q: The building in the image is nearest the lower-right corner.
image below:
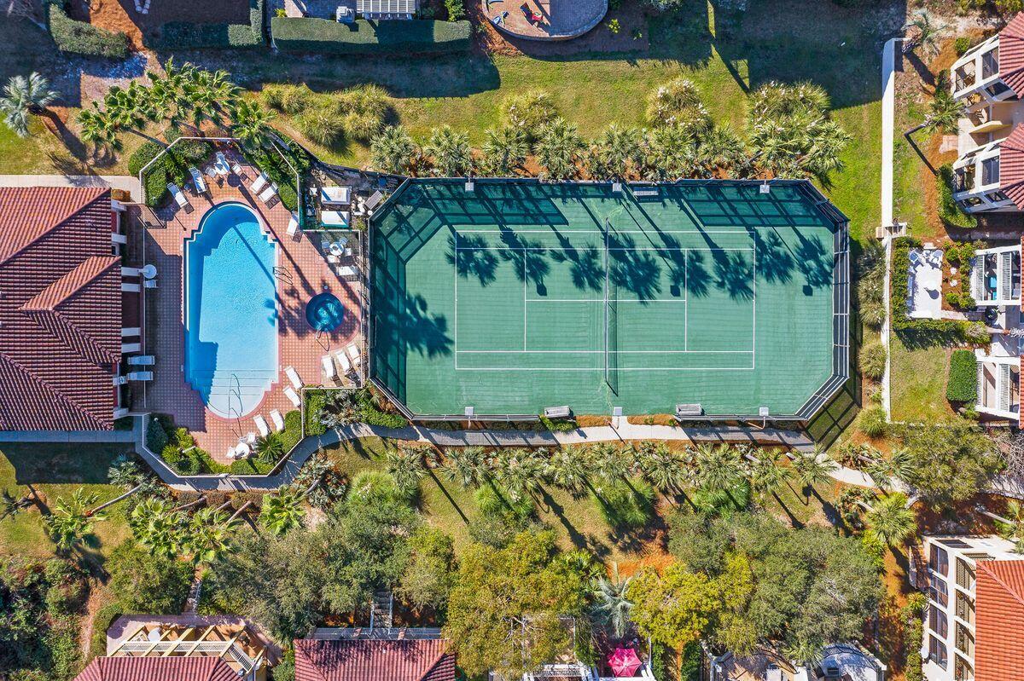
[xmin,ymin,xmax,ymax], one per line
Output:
[926,538,1024,681]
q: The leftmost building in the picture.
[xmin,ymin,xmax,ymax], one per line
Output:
[0,185,141,432]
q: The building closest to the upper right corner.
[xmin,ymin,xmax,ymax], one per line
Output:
[953,10,1024,123]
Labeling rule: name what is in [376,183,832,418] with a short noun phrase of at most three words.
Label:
tennis court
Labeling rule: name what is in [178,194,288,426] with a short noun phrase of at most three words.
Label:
swimming pool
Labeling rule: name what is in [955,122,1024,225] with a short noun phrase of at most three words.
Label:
house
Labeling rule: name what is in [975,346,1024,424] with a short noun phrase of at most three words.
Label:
house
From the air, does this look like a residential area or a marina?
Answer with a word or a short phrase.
residential area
